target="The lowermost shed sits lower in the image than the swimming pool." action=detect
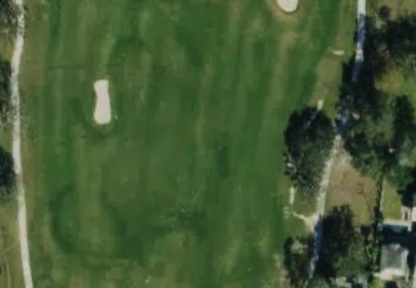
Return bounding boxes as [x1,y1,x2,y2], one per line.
[381,245,408,276]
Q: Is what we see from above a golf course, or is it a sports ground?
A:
golf course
